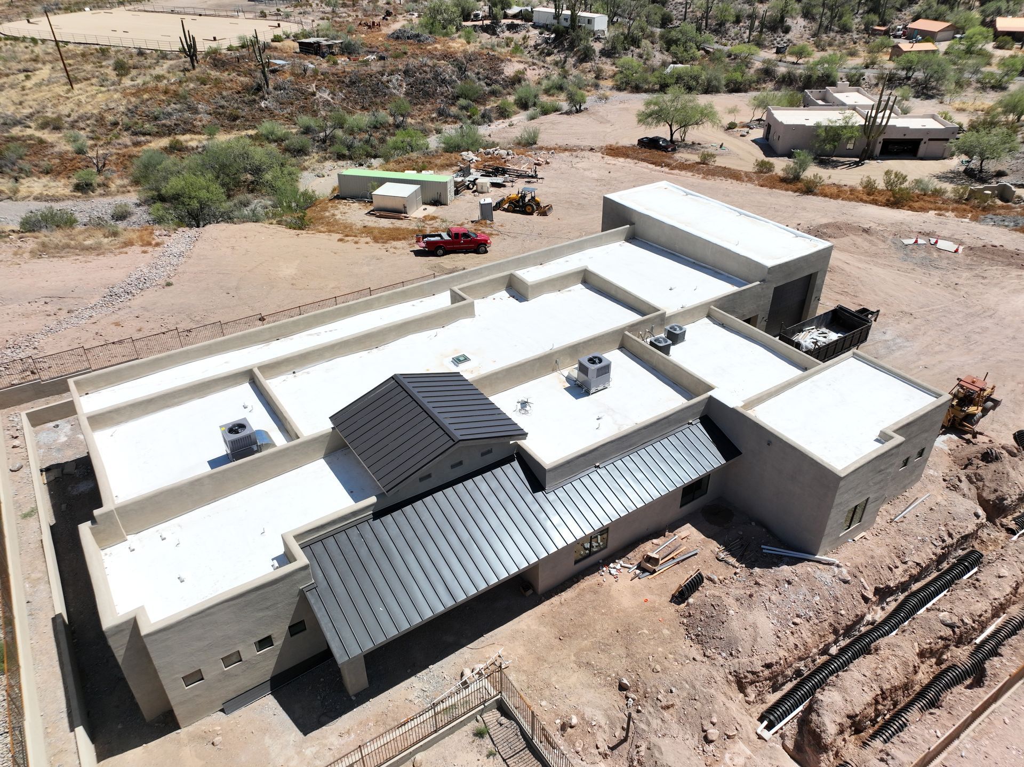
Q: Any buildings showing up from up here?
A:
Yes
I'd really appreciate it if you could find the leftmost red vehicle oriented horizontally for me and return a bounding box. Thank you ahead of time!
[419,228,494,256]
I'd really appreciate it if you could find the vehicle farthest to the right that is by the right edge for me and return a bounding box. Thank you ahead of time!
[948,376,1016,437]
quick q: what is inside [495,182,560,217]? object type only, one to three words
work vehicle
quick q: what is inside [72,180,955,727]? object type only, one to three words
house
